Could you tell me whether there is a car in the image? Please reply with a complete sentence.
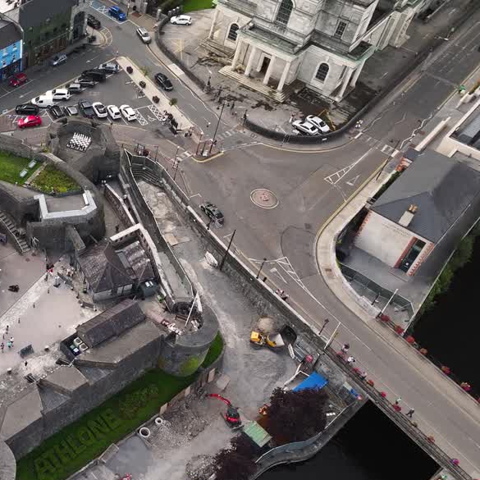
Yes, the image includes a car.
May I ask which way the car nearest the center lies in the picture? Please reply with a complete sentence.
I'd say the car nearest the center is aligned on a diagonal in the picture.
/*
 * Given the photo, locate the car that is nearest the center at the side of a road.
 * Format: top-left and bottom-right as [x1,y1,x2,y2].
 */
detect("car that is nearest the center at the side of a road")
[198,202,227,228]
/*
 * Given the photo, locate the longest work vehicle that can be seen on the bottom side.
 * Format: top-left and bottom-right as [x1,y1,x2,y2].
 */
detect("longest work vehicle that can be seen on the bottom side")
[207,386,246,427]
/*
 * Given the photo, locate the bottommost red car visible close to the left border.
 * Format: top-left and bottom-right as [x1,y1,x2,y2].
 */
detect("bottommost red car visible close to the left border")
[16,114,43,128]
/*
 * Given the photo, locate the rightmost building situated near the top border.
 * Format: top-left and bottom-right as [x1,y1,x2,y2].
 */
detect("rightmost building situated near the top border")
[203,0,440,102]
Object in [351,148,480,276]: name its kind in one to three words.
building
